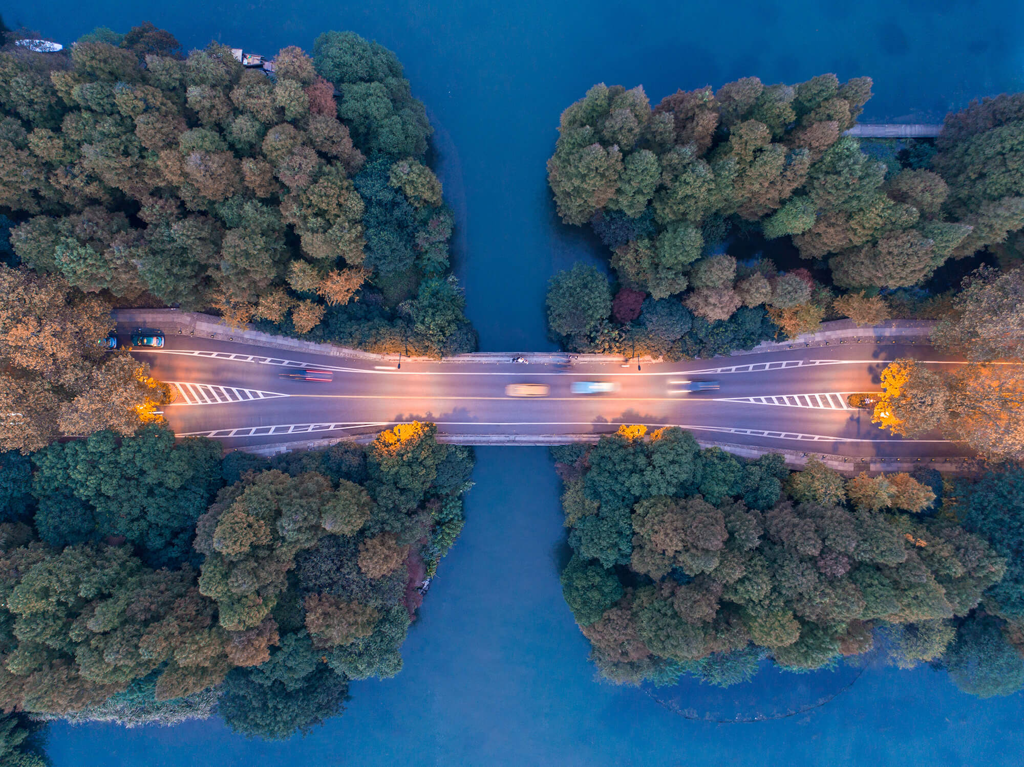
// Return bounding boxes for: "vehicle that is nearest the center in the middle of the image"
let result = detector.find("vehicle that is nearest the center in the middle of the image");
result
[511,383,544,398]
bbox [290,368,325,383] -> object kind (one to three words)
car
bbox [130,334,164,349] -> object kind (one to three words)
car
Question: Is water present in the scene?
Yes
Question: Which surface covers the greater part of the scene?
trees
